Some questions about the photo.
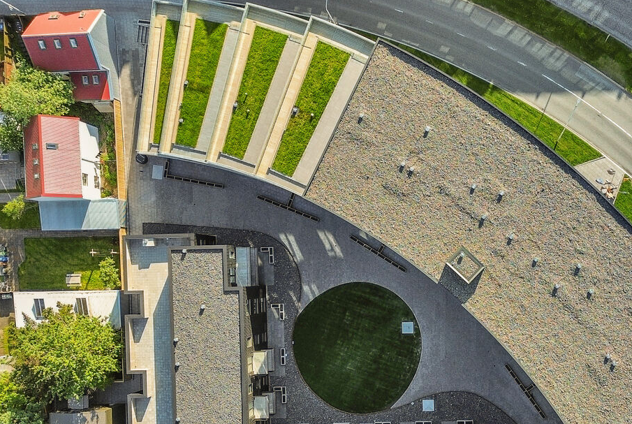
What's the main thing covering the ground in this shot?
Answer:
buildings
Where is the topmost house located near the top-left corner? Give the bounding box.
[20,9,118,104]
